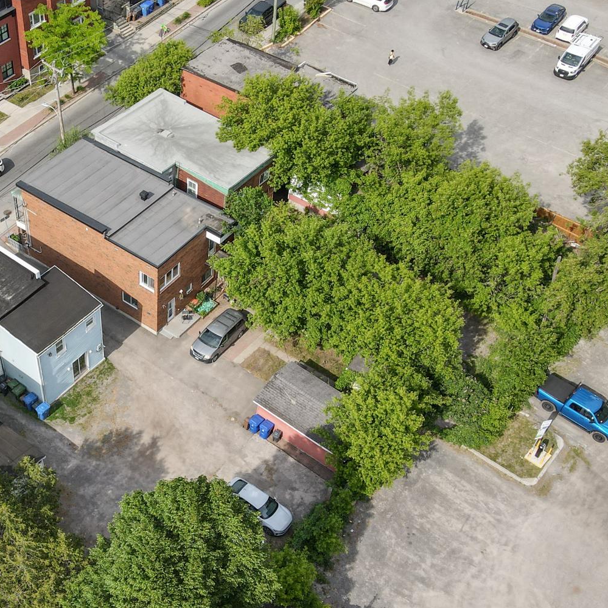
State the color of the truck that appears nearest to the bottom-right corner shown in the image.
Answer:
blue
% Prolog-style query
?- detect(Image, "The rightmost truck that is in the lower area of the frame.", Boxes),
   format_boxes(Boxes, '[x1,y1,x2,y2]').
[530,371,608,440]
